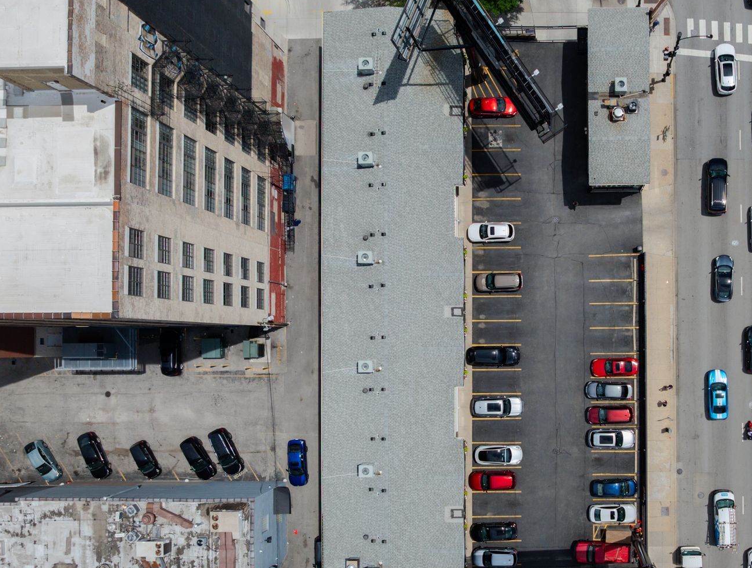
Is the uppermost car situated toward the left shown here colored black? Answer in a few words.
Yes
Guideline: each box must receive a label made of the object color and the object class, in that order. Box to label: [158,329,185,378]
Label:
black car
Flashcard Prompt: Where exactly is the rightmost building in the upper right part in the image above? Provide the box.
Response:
[586,8,651,196]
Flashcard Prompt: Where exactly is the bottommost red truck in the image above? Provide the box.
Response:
[572,540,632,566]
